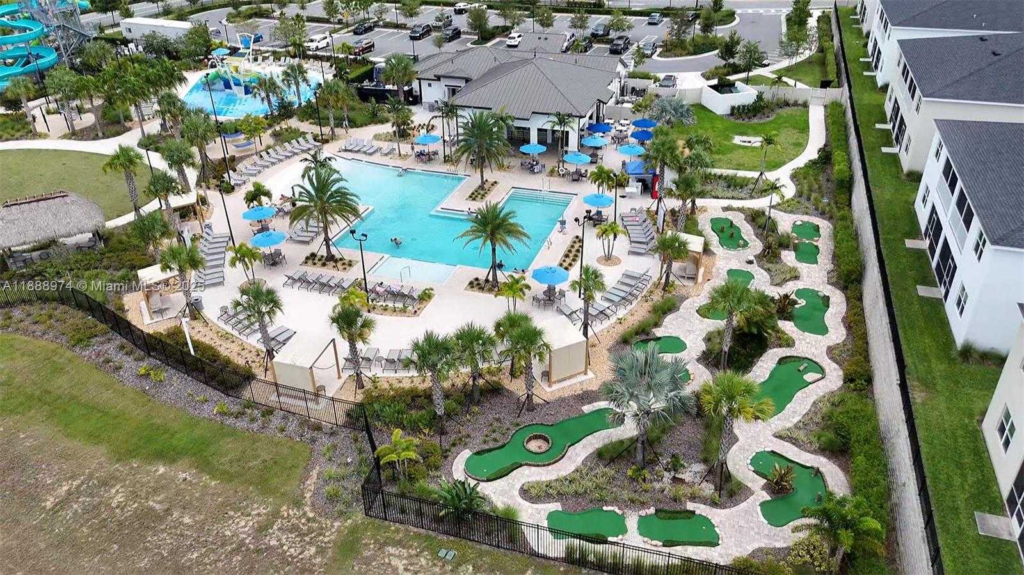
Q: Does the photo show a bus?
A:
No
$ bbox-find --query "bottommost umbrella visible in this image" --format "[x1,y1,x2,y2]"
[532,266,568,294]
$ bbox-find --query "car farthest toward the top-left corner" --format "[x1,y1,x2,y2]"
[207,23,226,36]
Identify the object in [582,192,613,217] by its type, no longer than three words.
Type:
umbrella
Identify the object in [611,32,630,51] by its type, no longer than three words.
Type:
car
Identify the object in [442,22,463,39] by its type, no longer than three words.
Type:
car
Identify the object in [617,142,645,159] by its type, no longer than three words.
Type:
umbrella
